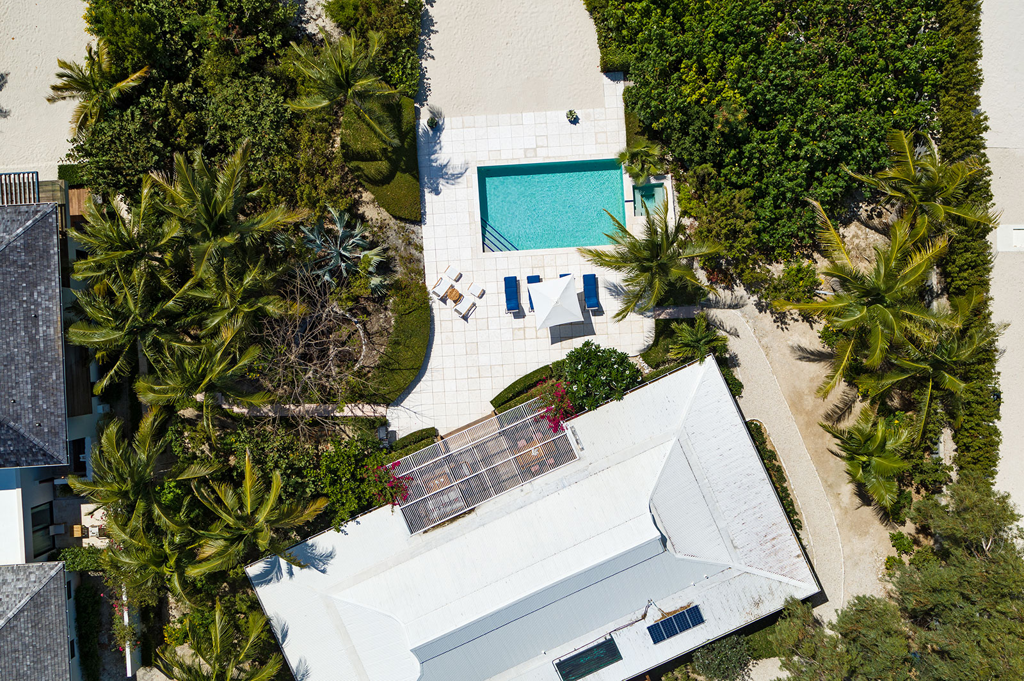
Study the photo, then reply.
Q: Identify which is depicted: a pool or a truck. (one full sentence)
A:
I can see a pool in this picture.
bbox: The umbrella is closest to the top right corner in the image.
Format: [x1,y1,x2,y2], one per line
[528,274,584,330]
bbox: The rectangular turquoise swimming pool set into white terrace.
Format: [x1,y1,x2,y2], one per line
[470,151,636,260]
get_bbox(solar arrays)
[647,603,706,644]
